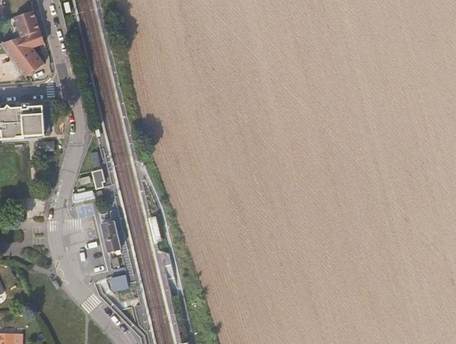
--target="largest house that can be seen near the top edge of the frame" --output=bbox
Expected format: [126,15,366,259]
[0,10,43,78]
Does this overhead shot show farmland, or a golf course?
farmland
